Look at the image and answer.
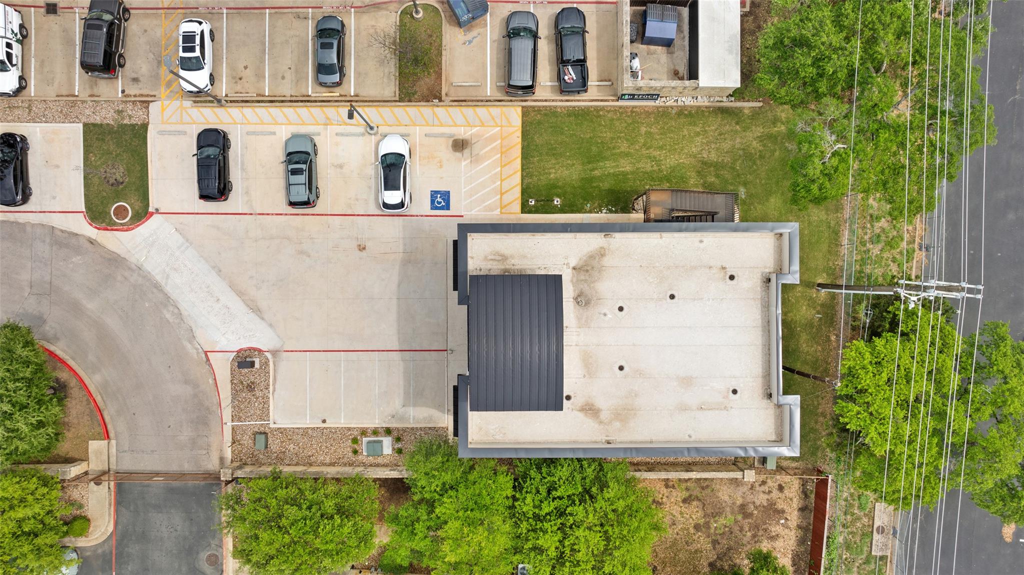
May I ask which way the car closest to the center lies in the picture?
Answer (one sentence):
The car closest to the center has been laid out up and down relative to the frame.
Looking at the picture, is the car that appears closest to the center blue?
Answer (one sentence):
No, from above the car that appears closest to the center looks white.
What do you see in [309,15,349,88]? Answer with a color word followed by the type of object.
gray car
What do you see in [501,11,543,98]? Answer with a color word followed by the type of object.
gray car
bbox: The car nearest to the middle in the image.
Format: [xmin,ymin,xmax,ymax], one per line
[373,133,413,213]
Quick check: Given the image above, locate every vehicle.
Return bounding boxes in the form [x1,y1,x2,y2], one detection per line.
[309,15,349,88]
[373,133,413,213]
[501,11,543,98]
[552,5,593,97]
[78,0,131,78]
[279,133,321,210]
[190,127,234,203]
[0,131,30,208]
[0,0,31,98]
[174,18,217,96]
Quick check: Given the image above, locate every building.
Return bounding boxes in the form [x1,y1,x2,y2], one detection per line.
[689,0,741,97]
[453,219,800,457]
